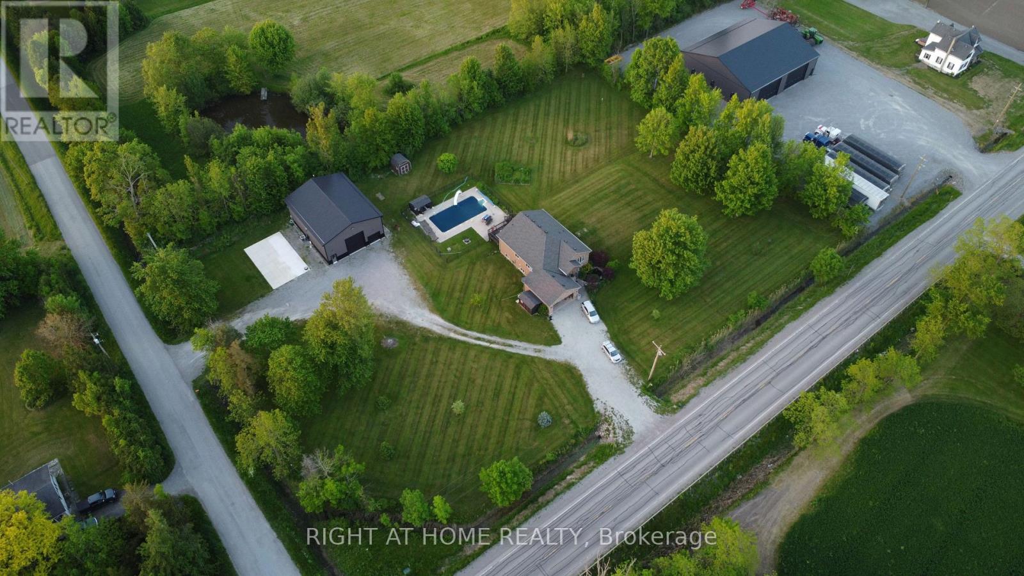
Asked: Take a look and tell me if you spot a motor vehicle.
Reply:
Yes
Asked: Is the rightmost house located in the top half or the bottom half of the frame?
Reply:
top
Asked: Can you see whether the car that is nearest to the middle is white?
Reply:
Yes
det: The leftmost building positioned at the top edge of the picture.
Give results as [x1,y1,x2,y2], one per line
[680,18,822,110]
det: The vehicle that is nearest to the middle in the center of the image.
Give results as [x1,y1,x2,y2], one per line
[580,297,602,322]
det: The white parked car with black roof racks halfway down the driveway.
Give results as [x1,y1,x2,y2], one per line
[601,339,625,363]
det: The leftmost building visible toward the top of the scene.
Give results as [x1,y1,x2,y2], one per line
[284,172,387,265]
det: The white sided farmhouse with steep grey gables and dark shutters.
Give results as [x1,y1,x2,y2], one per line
[906,18,995,76]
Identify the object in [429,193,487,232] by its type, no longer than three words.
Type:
swimming pool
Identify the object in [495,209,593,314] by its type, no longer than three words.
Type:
house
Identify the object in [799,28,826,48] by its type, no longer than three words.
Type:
work vehicle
